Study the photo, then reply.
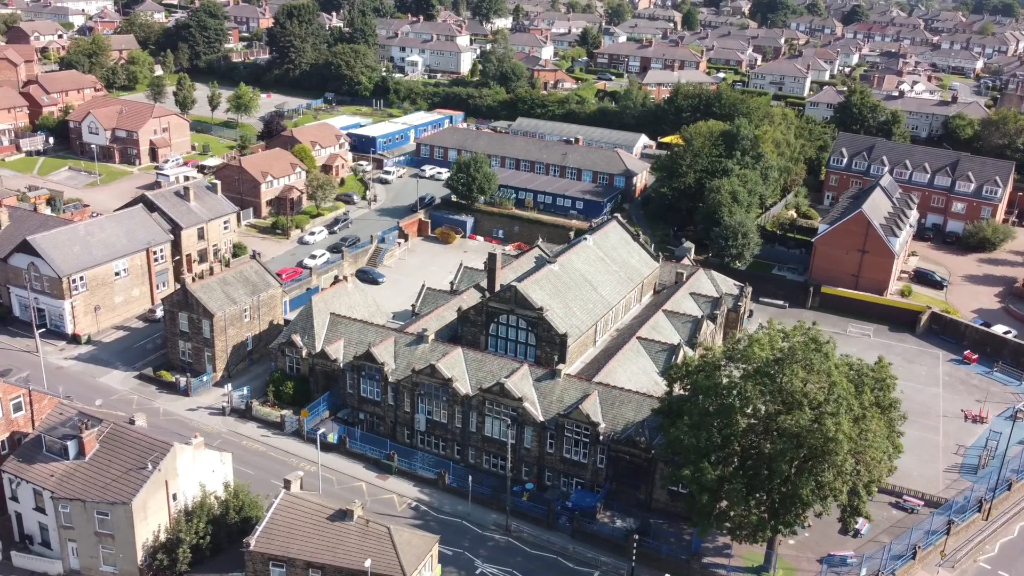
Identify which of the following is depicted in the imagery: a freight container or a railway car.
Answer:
freight container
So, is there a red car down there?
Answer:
Yes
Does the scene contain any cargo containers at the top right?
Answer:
No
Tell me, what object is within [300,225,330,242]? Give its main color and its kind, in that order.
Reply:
white car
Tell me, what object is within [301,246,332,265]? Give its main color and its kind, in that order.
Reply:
white car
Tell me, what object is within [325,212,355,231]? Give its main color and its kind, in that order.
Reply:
gray car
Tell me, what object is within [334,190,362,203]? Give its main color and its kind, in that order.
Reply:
gray vehicle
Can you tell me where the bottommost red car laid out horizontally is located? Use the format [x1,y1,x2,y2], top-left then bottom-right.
[271,263,307,281]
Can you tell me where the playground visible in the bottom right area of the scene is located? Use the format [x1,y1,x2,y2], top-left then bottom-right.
[716,305,1024,576]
